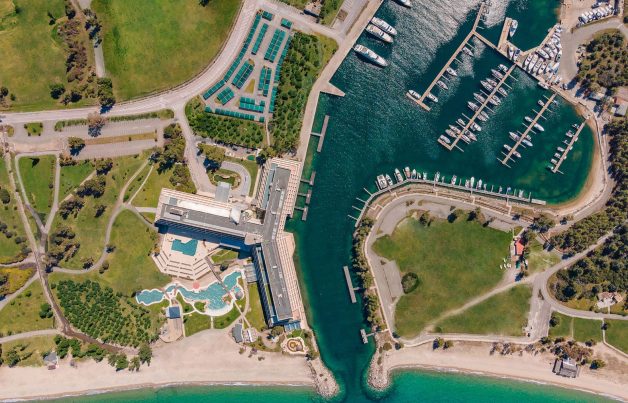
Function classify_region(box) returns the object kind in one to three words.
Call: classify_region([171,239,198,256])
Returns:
swimming pool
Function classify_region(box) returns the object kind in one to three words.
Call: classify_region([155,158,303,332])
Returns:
building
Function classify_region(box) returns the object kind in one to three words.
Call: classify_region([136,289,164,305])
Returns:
swimming pool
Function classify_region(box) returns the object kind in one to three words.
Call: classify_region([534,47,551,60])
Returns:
boat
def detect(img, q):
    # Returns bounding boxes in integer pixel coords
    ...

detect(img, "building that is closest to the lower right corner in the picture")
[552,359,579,377]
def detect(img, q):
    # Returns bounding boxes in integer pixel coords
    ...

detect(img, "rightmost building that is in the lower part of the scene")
[596,292,623,308]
